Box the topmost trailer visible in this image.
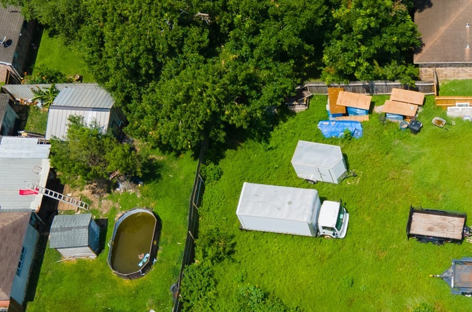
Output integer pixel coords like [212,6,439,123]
[293,142,360,185]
